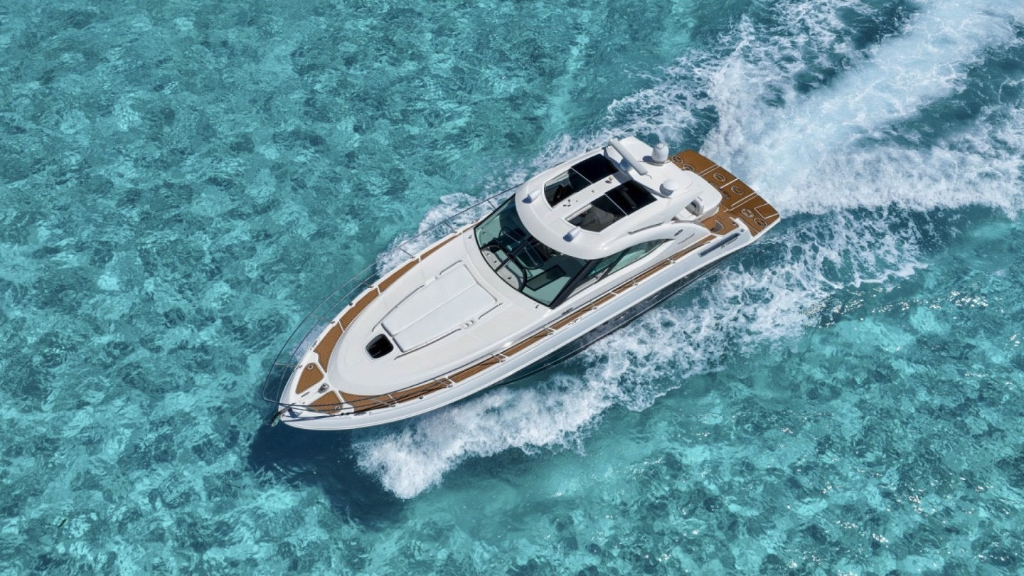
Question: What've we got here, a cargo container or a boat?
boat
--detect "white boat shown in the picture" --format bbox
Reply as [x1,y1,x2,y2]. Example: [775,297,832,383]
[257,130,780,438]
